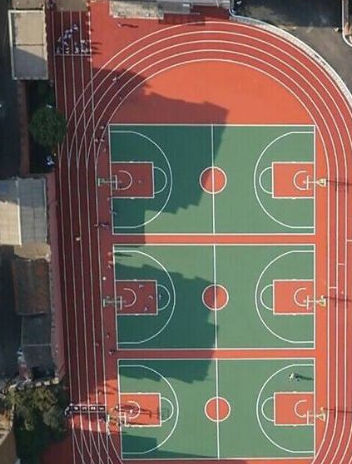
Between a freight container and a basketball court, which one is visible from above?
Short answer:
basketball court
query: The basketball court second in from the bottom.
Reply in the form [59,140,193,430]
[113,243,315,350]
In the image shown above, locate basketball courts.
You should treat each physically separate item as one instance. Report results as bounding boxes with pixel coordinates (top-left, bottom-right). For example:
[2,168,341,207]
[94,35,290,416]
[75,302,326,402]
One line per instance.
[108,123,316,236]
[118,359,315,459]
[113,243,315,350]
